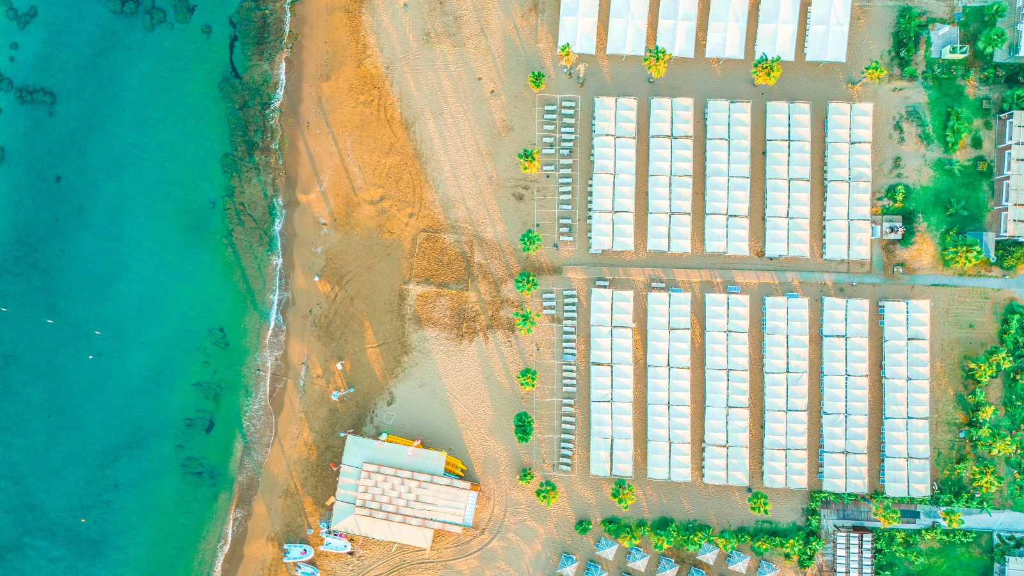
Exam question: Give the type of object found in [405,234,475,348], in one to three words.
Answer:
sports court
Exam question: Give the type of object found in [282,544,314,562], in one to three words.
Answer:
boat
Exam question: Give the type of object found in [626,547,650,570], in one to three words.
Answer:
umbrella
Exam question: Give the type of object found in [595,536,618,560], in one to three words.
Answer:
umbrella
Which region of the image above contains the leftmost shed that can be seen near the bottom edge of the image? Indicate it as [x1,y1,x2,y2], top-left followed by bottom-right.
[329,433,480,548]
